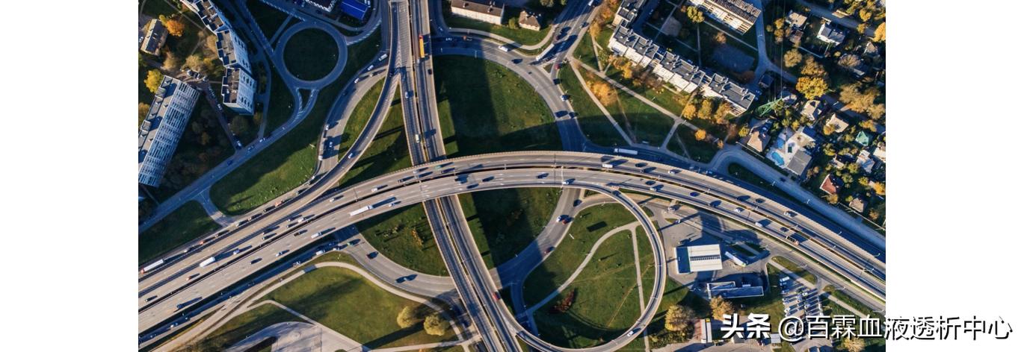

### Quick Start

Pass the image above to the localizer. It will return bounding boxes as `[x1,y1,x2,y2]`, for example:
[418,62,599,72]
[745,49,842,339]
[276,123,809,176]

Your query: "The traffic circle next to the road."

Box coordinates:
[274,18,348,91]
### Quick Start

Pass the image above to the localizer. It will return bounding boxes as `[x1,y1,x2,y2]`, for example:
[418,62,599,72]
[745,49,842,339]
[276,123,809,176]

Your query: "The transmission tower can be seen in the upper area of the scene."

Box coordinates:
[753,101,786,117]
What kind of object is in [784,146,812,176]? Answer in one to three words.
house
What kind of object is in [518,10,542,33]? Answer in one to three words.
house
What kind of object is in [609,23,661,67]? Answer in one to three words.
building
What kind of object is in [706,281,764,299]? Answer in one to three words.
building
